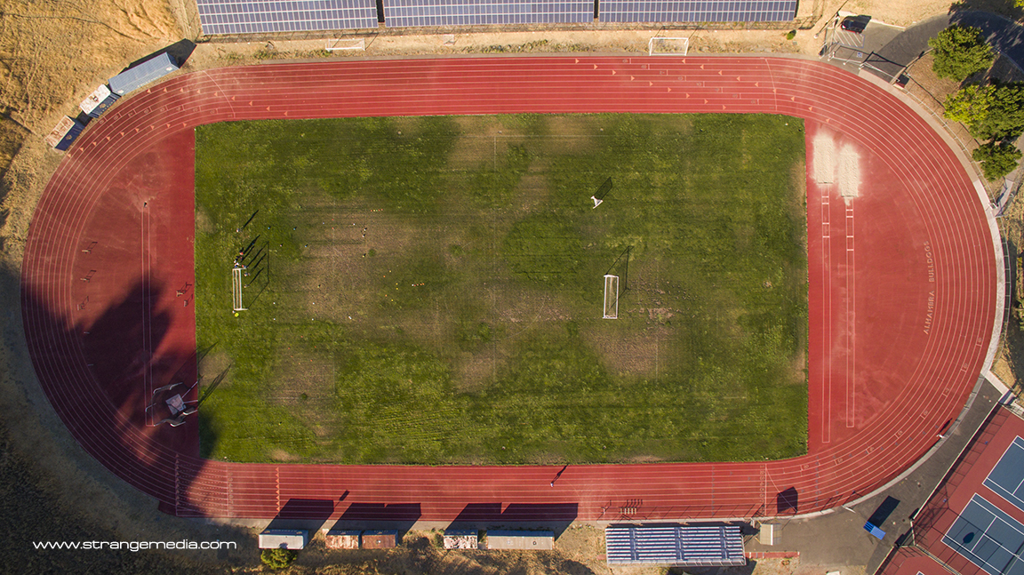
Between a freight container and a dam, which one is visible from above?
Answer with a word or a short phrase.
freight container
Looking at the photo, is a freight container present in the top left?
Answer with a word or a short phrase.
Yes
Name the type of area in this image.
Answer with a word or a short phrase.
sports ground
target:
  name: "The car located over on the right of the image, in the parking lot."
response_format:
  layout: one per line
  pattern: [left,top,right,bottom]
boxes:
[842,18,869,33]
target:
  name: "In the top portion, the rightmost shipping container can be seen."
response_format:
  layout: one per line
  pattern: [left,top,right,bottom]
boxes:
[107,51,180,97]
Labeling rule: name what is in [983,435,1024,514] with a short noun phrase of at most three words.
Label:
tennis court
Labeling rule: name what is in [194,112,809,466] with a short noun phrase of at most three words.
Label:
sports field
